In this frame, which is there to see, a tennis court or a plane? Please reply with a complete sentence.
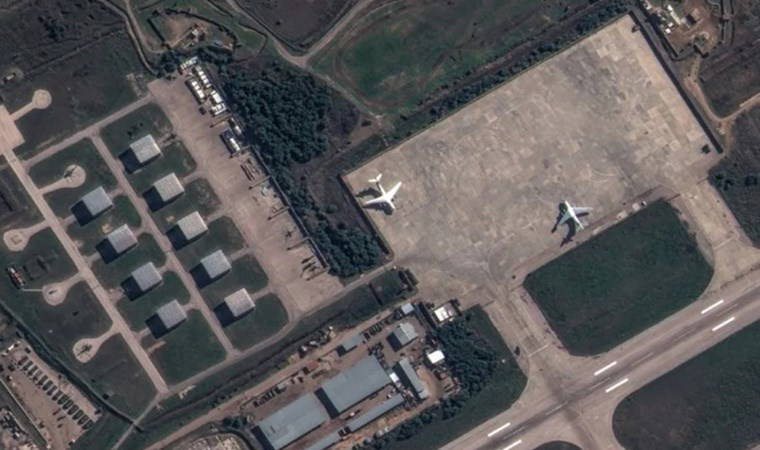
This aerial view contains a plane.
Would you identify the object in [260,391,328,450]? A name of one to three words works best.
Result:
building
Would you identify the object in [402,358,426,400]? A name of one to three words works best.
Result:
shed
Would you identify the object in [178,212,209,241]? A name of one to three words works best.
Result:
hangar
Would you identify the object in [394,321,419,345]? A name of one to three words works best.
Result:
building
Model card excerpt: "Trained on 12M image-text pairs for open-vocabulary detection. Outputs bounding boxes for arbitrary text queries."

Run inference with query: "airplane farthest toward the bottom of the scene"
[560,203,592,235]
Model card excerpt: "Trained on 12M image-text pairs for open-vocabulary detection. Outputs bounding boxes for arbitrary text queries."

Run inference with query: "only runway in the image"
[438,264,760,450]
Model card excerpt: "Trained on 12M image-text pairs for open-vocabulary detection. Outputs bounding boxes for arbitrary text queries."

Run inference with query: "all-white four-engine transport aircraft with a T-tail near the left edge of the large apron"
[367,175,402,210]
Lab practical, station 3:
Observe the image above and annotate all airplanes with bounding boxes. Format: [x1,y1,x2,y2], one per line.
[560,203,592,235]
[367,175,402,210]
